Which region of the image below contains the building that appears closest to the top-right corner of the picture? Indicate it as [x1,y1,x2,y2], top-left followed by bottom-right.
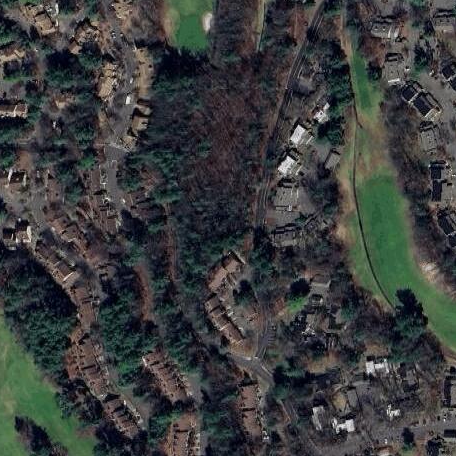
[435,15,456,34]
